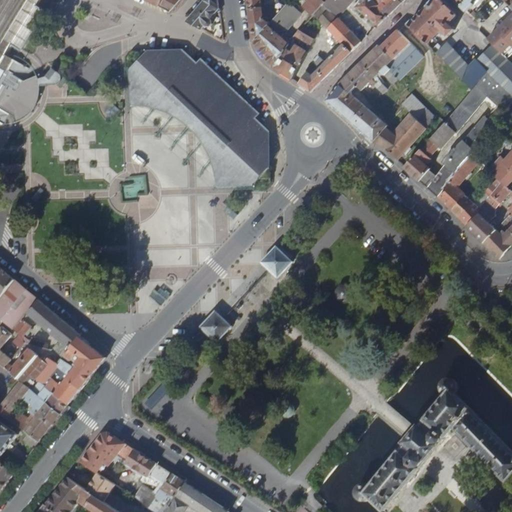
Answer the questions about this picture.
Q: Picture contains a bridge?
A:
Yes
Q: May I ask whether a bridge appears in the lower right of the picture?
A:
Yes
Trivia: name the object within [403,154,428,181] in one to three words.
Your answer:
house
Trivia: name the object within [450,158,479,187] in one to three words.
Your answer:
building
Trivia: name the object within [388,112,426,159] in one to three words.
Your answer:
house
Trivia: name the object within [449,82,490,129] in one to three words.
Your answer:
building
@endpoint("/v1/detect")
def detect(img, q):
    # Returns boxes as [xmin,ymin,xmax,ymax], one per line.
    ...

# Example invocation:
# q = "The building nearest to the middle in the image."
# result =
[260,246,292,278]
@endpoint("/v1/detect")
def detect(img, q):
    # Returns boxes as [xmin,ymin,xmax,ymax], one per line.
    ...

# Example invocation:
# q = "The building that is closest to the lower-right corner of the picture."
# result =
[350,380,512,510]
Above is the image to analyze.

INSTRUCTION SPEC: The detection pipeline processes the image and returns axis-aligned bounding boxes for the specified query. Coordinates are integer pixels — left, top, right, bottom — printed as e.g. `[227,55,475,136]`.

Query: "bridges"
[374,400,412,438]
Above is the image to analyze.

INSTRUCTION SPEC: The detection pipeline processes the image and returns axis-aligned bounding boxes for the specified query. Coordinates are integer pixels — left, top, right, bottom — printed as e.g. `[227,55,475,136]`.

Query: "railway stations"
[0,0,60,126]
